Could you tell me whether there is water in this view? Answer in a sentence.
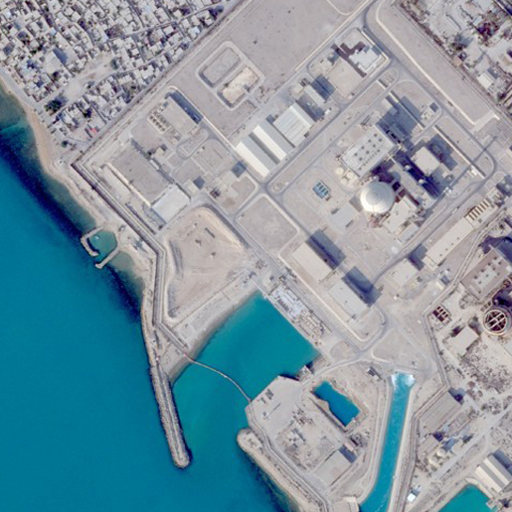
Yes, water can be seen from above here.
